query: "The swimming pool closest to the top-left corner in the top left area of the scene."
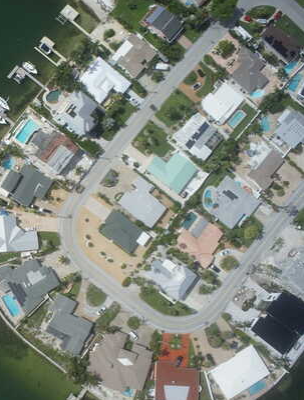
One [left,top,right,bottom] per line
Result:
[47,89,61,104]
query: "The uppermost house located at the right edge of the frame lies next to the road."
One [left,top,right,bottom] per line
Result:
[259,25,304,66]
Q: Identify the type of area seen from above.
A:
residential area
